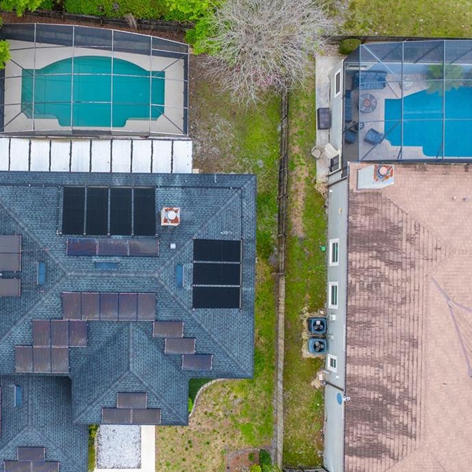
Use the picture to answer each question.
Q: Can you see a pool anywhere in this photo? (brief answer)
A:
Yes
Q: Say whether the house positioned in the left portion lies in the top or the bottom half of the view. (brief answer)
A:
bottom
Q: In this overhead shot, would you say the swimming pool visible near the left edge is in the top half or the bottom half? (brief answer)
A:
top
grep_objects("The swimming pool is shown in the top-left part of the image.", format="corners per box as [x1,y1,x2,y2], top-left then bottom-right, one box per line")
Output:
[17,51,169,131]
